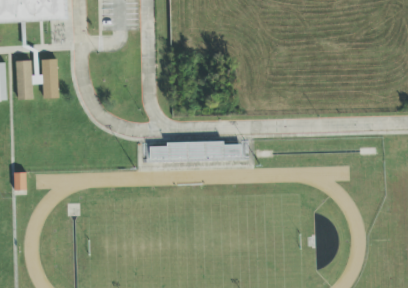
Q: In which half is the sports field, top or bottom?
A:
bottom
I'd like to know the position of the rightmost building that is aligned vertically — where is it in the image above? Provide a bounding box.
[41,59,59,100]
